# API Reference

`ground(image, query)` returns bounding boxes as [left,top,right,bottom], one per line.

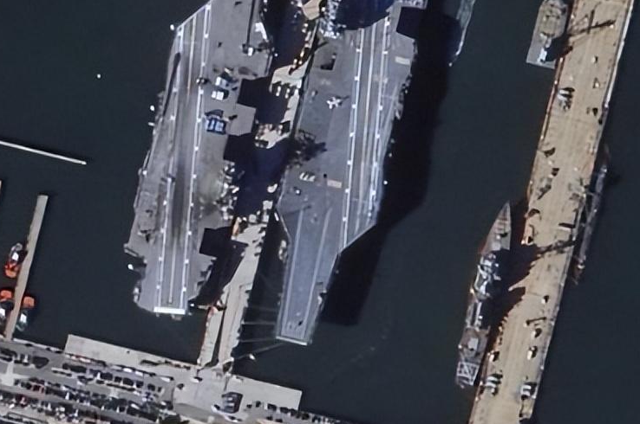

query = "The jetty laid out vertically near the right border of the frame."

[470,0,639,424]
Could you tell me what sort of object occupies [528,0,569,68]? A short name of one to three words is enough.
ship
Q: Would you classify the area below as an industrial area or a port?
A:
port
